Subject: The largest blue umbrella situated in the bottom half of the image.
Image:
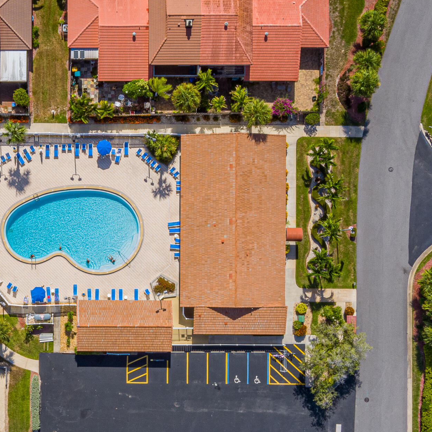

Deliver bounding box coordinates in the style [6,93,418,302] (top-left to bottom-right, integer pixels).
[30,287,46,302]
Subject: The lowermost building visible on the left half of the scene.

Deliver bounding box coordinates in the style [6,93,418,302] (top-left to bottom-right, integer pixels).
[76,300,173,354]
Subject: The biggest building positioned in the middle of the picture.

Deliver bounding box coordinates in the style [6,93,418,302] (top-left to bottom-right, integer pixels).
[180,132,303,334]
